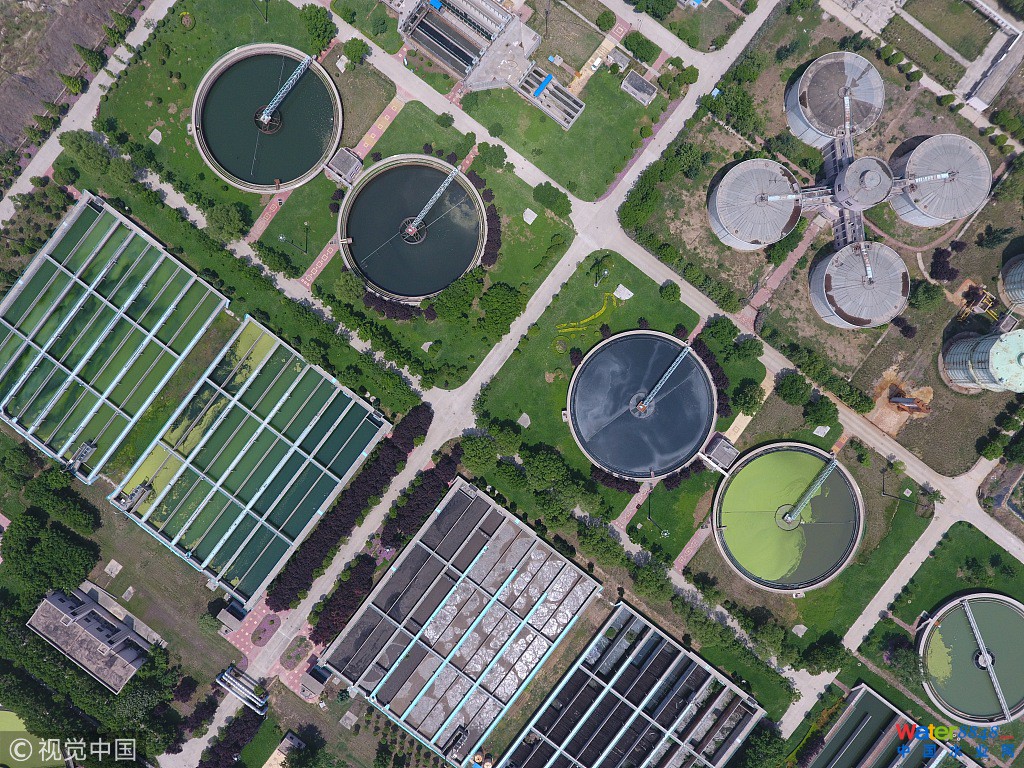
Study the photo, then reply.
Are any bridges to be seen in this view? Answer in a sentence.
Yes, there's a bridge here.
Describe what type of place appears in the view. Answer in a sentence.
This looks like an industrial area.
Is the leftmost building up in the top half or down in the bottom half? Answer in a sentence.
You can find the leftmost building in the bottom half.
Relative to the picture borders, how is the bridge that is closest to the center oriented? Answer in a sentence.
Seen from above, the bridge that is closest to the center lies on a diagonal.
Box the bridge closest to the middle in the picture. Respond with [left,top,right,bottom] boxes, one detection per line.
[634,343,693,412]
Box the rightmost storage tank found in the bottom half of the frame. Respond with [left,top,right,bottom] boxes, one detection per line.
[911,590,1024,728]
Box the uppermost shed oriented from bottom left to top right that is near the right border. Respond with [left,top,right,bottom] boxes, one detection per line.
[966,33,1024,106]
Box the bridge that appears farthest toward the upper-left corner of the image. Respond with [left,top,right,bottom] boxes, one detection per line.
[262,54,314,128]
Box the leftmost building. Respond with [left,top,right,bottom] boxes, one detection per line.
[24,576,169,695]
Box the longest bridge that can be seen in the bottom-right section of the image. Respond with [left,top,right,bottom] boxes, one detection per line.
[958,598,1012,723]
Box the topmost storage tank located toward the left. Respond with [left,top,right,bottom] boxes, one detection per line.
[193,43,345,195]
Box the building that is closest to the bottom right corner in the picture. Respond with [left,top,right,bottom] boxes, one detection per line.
[706,439,740,468]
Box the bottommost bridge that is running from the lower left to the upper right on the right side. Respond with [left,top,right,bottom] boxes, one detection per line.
[777,454,839,522]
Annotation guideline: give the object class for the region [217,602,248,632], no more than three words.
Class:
building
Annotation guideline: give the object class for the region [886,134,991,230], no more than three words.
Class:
storage tank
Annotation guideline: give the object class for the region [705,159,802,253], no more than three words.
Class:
storage tank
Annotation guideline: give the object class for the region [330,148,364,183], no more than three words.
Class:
building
